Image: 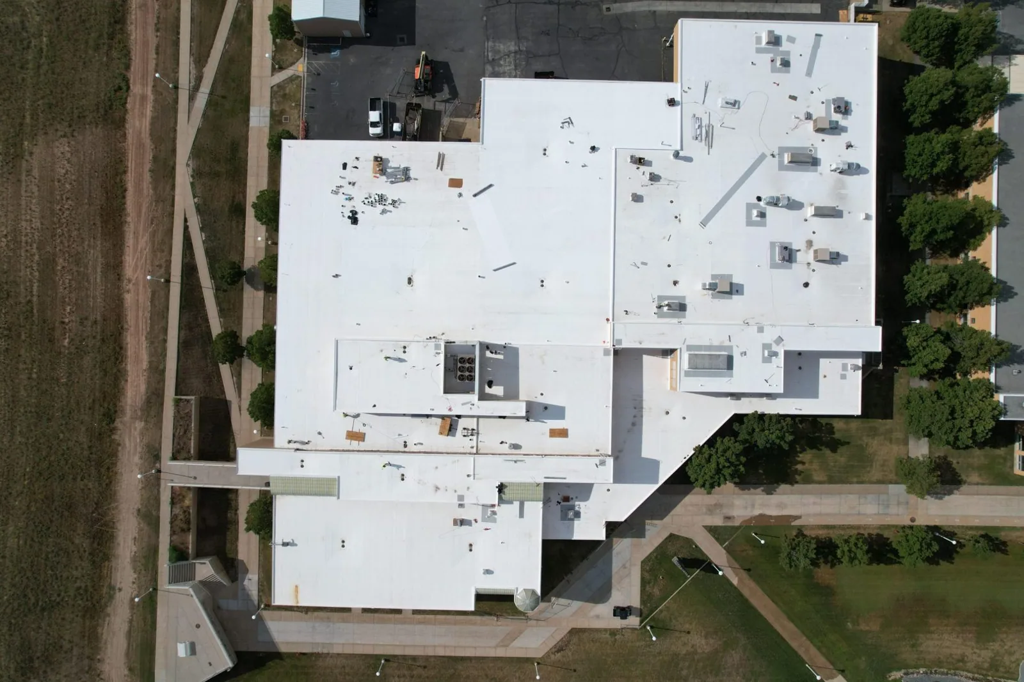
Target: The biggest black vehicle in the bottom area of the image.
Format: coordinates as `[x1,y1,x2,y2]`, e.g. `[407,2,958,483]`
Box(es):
[612,604,631,621]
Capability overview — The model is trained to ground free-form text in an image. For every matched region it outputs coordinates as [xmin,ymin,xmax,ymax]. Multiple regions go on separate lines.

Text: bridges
[171,464,278,487]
